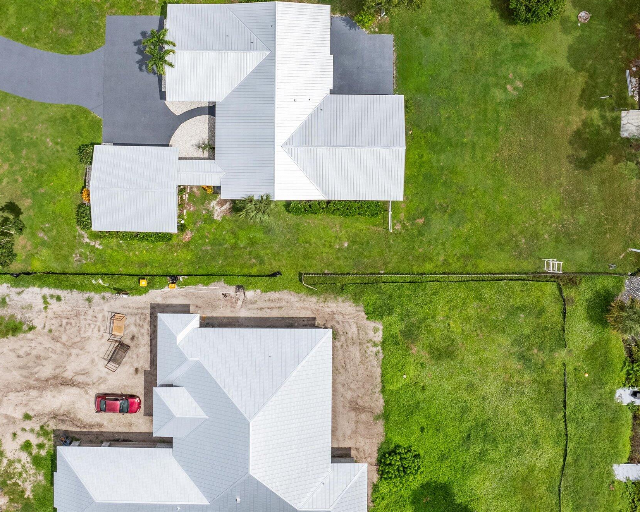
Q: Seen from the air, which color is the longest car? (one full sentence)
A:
The color of the longest car is red.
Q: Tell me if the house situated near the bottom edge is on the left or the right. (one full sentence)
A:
The house situated near the bottom edge appears in the left half of the scene.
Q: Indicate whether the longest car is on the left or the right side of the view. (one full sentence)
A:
The longest car sits on the left side.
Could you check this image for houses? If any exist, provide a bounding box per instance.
[166,0,406,203]
[57,312,369,512]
